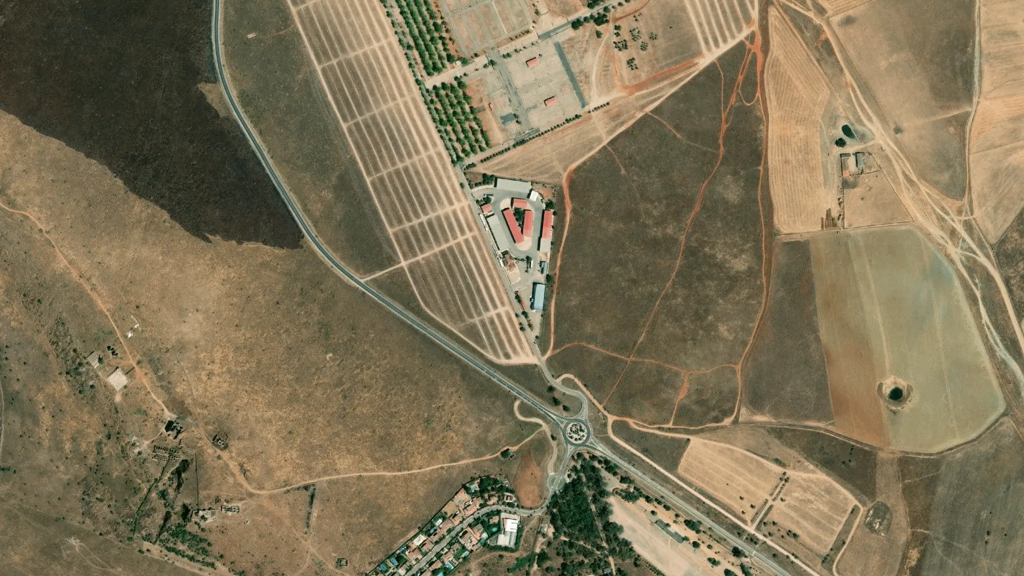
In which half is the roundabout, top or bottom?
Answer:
bottom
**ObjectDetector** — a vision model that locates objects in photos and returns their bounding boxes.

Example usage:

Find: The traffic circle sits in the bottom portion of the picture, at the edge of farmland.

[541,398,609,468]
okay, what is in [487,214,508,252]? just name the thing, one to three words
shed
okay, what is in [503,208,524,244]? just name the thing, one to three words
building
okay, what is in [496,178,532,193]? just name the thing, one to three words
building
